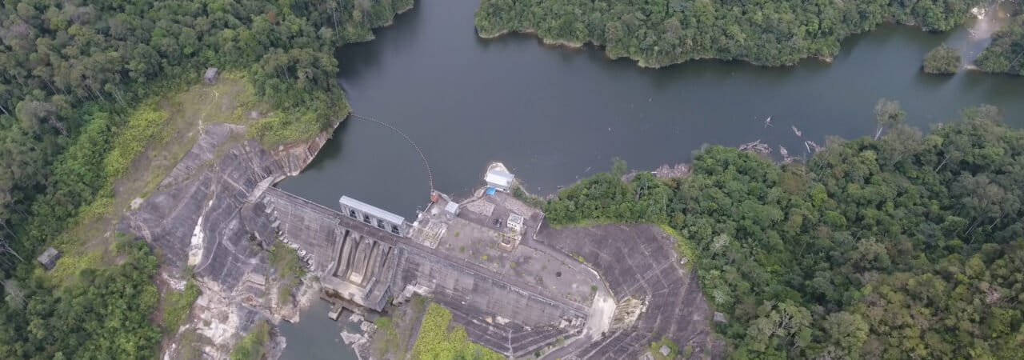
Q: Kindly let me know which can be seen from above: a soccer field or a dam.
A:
dam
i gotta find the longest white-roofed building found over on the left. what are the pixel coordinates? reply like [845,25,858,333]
[338,193,410,237]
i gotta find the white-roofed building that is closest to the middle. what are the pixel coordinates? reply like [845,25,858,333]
[482,165,515,193]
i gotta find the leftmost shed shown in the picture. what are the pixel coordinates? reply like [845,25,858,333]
[33,250,59,274]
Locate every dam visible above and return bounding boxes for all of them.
[261,182,597,330]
